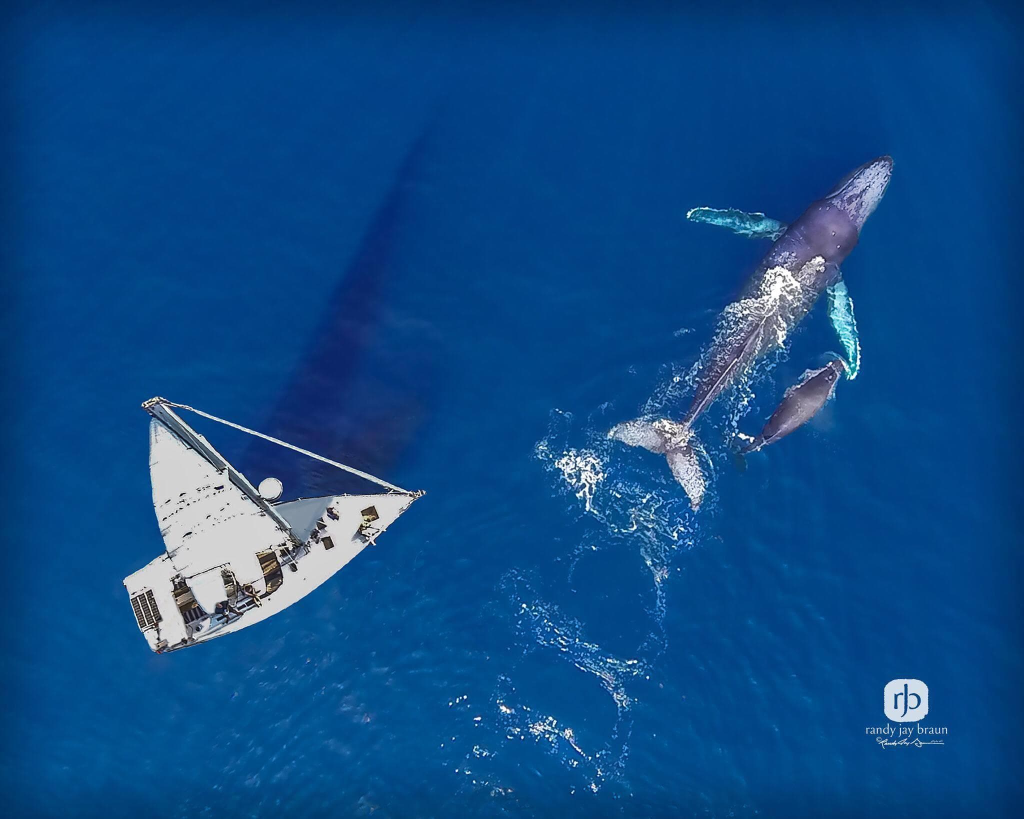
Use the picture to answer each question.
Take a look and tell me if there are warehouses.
No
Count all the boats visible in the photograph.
1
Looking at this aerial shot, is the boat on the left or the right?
left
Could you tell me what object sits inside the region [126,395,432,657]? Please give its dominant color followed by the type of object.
white boat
